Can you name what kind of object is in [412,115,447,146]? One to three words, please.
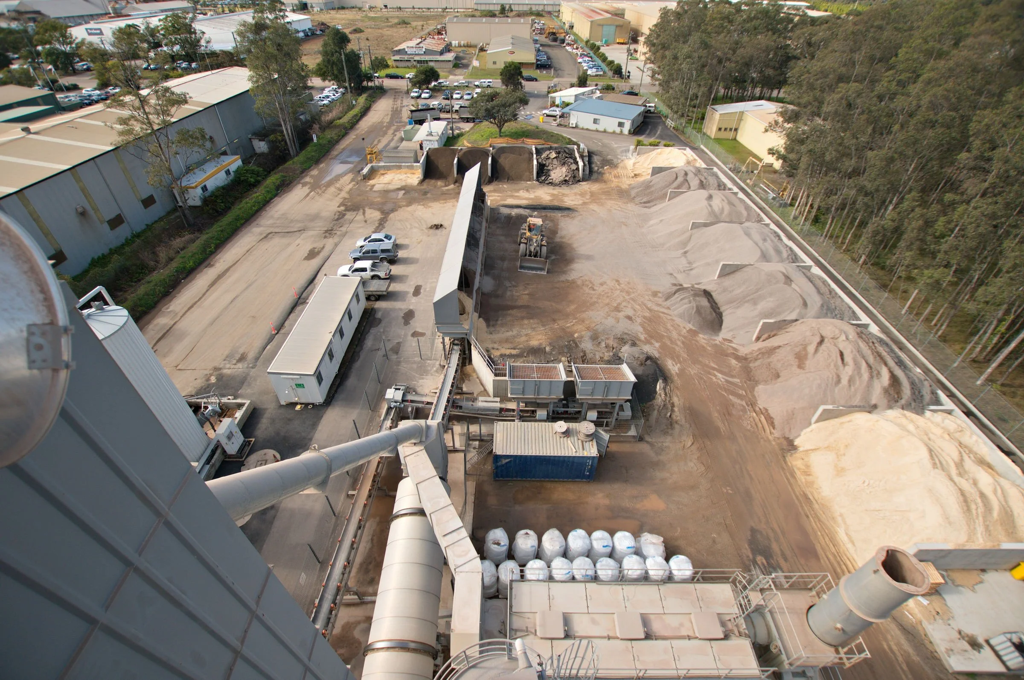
shed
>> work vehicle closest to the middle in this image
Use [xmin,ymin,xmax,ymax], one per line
[518,214,557,274]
